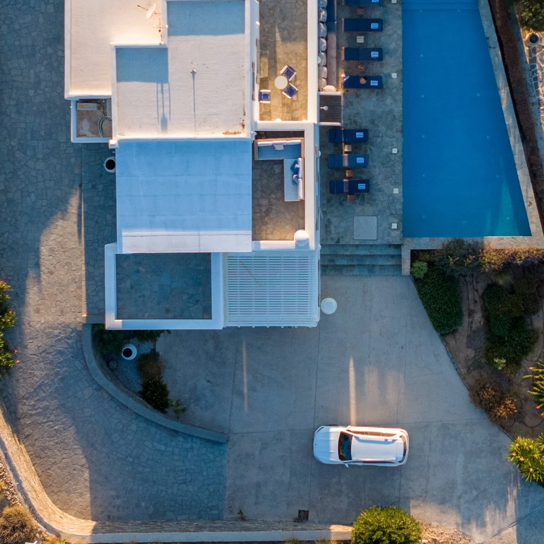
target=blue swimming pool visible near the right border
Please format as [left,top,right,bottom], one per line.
[402,0,544,275]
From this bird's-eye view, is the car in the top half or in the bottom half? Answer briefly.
bottom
